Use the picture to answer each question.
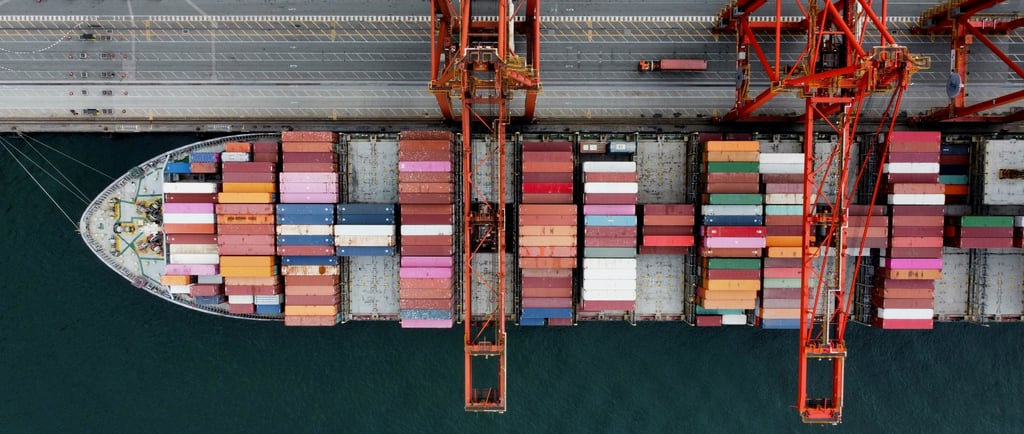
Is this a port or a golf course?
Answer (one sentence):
The picture captures a port.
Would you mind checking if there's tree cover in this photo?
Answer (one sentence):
No, the scene doesn't show any tree cover.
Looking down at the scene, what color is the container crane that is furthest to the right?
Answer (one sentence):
From above, the container crane that is furthest to the right appears red.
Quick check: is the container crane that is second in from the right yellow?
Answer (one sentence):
No, the container crane that is second in from the right is actually red.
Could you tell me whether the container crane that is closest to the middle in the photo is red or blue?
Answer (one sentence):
From above, the container crane that is closest to the middle appears red.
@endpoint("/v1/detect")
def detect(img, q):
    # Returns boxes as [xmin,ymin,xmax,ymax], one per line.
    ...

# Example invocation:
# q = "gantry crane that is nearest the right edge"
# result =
[899,0,1024,123]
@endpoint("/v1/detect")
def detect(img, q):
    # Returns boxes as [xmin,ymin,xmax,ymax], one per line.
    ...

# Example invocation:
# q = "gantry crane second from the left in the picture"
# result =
[698,0,934,423]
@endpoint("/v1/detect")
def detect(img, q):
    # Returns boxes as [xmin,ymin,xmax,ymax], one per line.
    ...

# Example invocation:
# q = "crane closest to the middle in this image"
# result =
[420,0,550,413]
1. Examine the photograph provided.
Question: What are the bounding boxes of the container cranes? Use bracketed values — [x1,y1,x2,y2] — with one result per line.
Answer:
[420,0,550,413]
[899,0,1024,123]
[698,0,934,423]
